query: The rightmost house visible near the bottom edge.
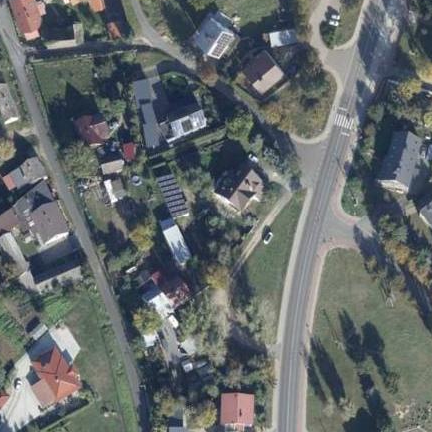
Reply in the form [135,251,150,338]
[221,392,254,426]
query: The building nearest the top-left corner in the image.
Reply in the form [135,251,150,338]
[11,0,42,41]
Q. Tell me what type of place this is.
residential area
